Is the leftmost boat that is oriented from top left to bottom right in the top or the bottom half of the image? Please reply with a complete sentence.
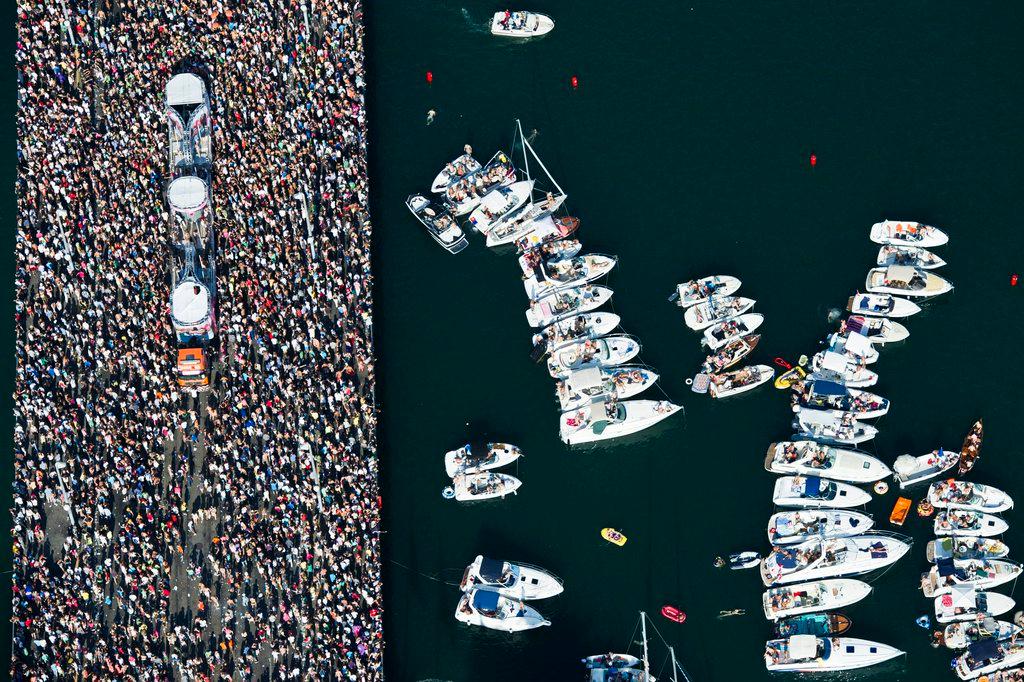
Seen from above, the leftmost boat that is oriented from top left to bottom right lies in the top half of the view.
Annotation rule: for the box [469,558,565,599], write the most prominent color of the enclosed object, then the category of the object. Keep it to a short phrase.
white boat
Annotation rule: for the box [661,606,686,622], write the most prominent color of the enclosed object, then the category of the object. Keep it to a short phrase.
red boat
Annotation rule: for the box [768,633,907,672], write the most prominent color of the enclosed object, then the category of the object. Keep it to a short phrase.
white boat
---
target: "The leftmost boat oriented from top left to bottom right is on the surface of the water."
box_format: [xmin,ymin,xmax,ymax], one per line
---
[406,192,463,248]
